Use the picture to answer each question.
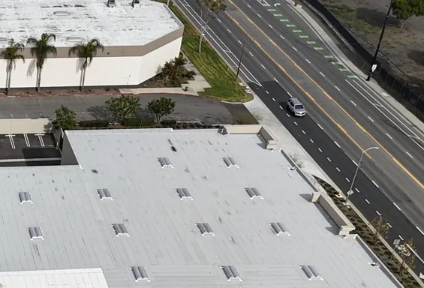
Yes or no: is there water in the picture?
No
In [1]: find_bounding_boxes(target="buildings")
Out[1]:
[0,0,190,87]
[0,126,404,288]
